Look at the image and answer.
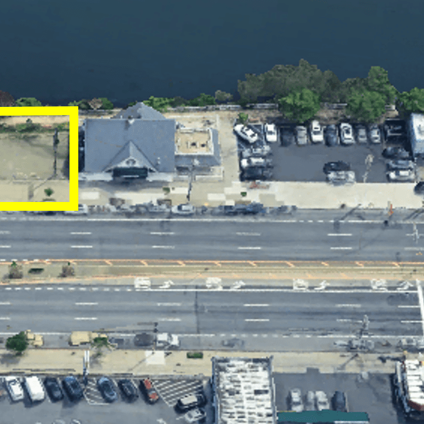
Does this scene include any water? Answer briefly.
Yes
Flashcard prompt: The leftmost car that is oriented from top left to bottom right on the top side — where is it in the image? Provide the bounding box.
[233,125,257,144]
